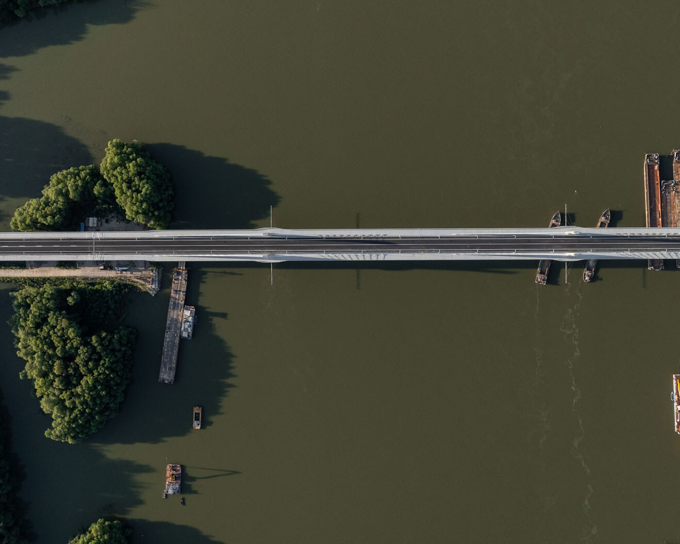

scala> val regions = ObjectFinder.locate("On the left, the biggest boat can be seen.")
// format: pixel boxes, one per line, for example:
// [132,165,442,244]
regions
[181,304,196,339]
